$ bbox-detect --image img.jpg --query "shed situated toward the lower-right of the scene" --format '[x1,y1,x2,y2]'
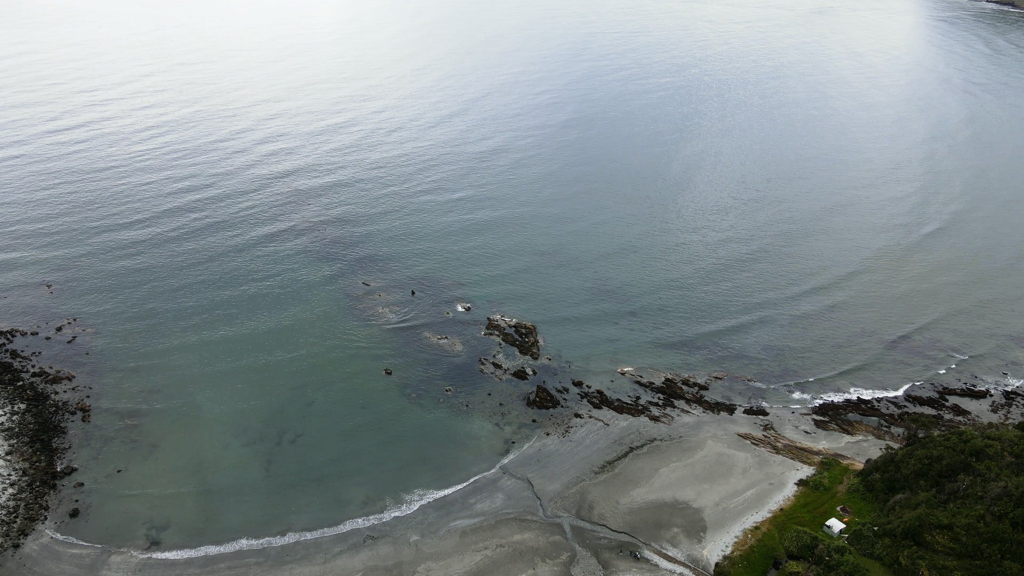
[823,516,846,539]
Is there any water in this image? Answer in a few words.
Yes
